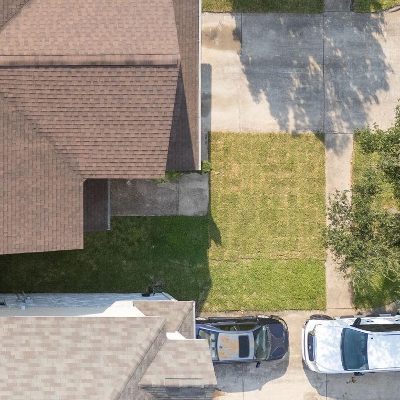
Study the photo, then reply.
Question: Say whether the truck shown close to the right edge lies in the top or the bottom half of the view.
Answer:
bottom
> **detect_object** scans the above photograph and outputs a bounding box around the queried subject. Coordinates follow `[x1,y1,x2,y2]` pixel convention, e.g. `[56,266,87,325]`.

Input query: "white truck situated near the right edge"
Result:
[299,318,400,381]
